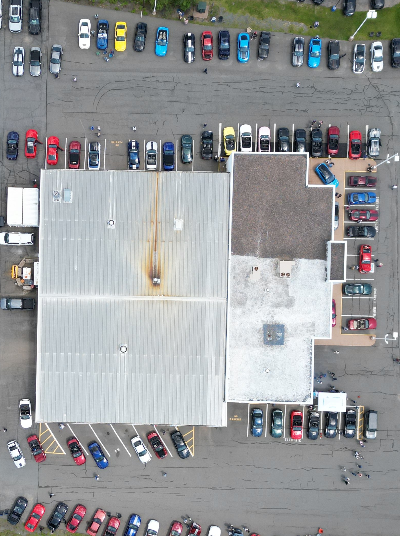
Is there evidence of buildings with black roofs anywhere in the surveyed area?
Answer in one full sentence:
No, no building with a black roof can be seen from above.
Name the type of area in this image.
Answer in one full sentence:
What you see here is a parking lot.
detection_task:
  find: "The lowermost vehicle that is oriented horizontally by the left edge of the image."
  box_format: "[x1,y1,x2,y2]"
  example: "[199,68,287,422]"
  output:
[0,297,35,312]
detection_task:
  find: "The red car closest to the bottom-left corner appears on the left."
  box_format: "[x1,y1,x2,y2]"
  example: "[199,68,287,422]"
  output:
[24,503,46,533]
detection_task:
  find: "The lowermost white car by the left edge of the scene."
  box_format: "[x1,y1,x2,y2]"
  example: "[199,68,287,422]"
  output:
[6,439,26,469]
